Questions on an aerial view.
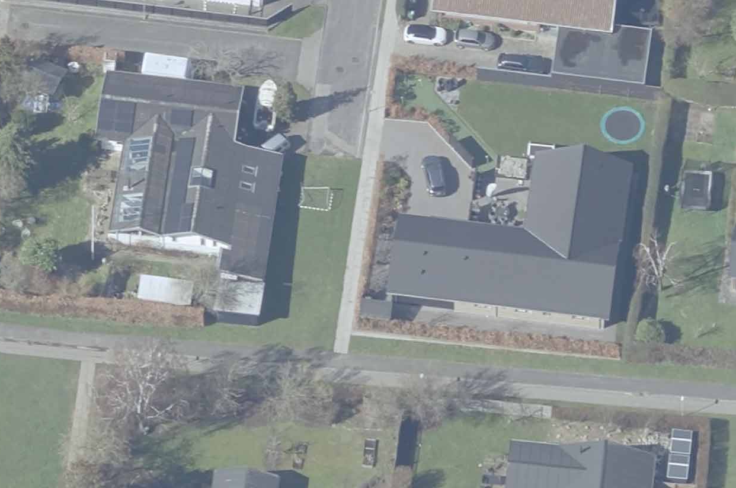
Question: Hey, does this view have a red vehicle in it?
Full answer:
No, the picture doesn't show any red vehicle.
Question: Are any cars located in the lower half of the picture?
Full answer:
No, I can find no car in the lower half of the picture.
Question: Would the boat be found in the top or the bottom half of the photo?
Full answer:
The boat is in the top half of the image.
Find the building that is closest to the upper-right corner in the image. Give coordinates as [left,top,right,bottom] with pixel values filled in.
[551,26,654,96]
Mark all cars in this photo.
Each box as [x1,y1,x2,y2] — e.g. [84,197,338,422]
[405,26,447,49]
[256,129,294,151]
[422,158,449,198]
[452,27,497,52]
[498,53,546,76]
